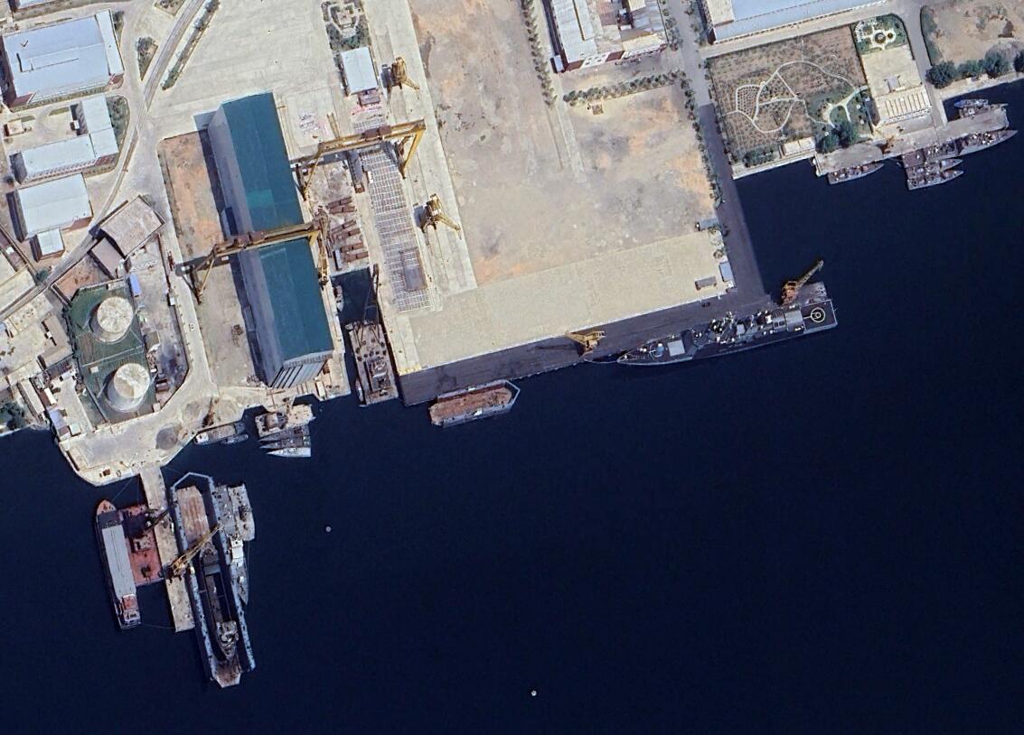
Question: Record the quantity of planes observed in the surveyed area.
0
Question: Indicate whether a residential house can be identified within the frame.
Yes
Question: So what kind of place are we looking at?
port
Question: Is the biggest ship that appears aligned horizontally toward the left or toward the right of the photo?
right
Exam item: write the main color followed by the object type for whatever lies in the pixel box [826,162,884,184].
gray ship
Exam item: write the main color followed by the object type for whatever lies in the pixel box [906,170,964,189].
gray ship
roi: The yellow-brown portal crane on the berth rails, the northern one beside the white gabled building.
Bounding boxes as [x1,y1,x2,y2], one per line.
[388,61,421,95]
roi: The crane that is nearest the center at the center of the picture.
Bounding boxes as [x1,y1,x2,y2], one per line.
[560,330,604,362]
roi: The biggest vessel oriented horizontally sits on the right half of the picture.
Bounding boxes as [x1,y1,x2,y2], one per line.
[619,301,838,364]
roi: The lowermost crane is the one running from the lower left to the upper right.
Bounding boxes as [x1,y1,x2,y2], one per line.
[166,526,221,588]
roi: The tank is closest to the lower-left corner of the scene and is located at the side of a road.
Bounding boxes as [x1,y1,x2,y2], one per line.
[103,364,150,413]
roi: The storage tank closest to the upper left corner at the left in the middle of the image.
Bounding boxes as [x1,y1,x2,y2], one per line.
[87,301,134,350]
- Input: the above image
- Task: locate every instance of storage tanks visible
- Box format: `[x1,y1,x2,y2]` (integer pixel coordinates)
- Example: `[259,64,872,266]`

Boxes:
[87,301,134,350]
[103,364,150,413]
